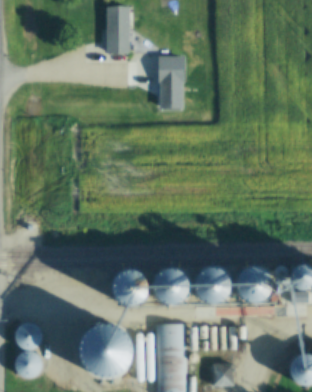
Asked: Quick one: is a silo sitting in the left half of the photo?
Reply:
Yes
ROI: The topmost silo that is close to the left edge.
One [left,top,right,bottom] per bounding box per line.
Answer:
[14,322,47,350]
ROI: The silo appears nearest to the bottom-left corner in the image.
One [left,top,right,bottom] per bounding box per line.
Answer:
[15,351,48,379]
